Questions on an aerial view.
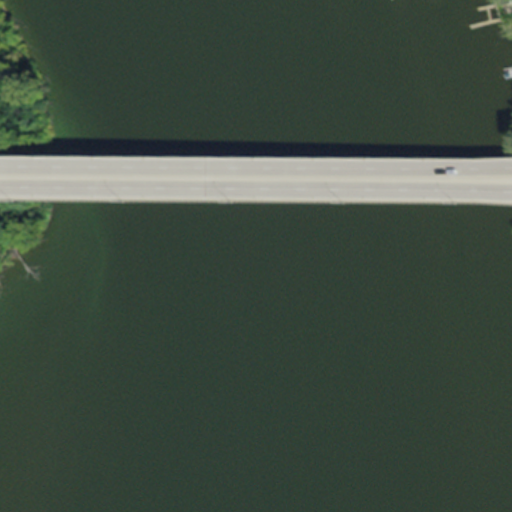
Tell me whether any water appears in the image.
Yes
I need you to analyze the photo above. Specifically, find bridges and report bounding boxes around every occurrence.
[0,156,512,206]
